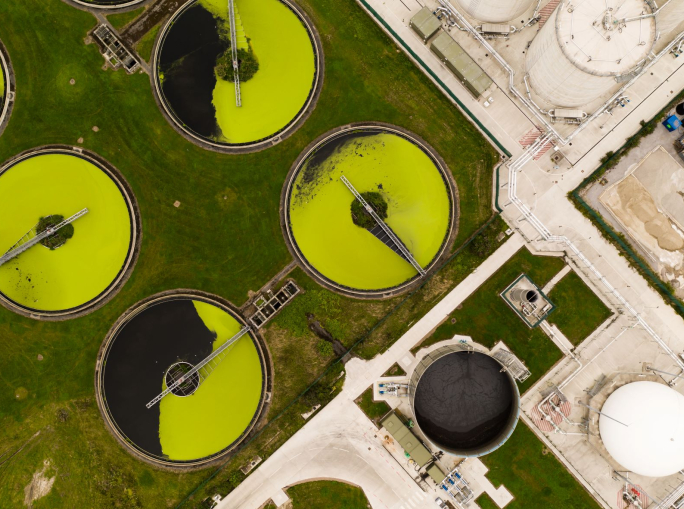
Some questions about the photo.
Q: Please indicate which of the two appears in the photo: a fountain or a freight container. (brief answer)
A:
freight container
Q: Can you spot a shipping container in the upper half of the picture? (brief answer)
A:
Yes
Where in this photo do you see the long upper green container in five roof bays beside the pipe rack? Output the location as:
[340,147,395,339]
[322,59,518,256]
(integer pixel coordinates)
[428,31,494,99]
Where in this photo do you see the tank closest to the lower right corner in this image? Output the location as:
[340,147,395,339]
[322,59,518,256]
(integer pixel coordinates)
[595,380,684,472]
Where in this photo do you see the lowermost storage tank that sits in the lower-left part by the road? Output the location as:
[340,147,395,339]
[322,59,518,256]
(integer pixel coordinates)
[92,289,273,473]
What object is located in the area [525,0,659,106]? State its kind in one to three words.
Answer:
storage tank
